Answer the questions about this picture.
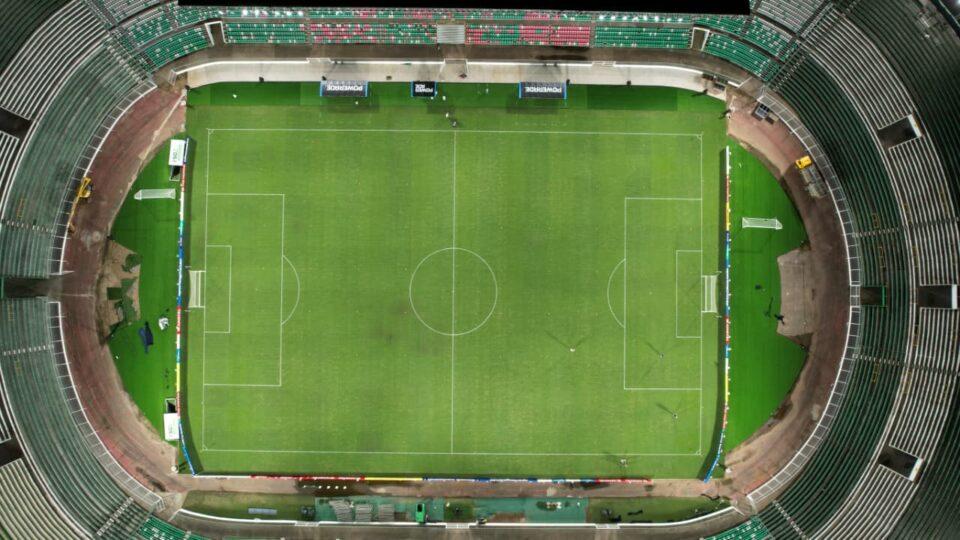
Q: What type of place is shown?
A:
sports ground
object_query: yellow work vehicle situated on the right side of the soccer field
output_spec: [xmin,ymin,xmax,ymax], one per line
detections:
[792,156,814,170]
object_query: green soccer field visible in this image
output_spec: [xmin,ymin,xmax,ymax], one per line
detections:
[185,110,728,480]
